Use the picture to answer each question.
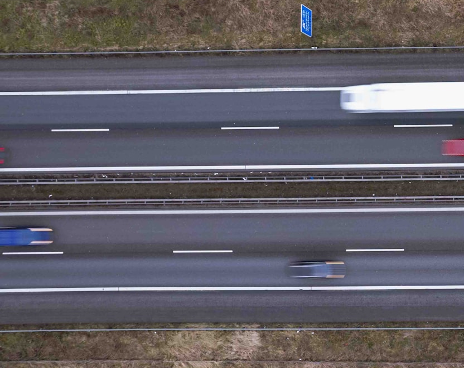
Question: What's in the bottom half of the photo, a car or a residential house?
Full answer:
Visible in the bottom half of the photo is a car.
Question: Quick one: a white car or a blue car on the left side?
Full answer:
The one visible on the left side is a blue car.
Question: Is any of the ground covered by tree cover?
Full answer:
No, the picture contains no tree cover.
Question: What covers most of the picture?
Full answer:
Most of the picture is covered by paved ground.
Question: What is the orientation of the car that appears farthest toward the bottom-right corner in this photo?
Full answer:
I'd say the car that appears farthest toward the bottom-right corner is aligned from left to right in the picture.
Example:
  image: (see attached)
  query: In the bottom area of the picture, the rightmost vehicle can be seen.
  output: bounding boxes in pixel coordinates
[293,260,343,280]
